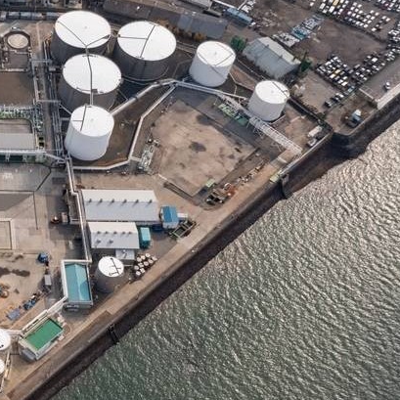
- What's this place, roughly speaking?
industrial area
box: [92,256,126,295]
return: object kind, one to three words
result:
storage tank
